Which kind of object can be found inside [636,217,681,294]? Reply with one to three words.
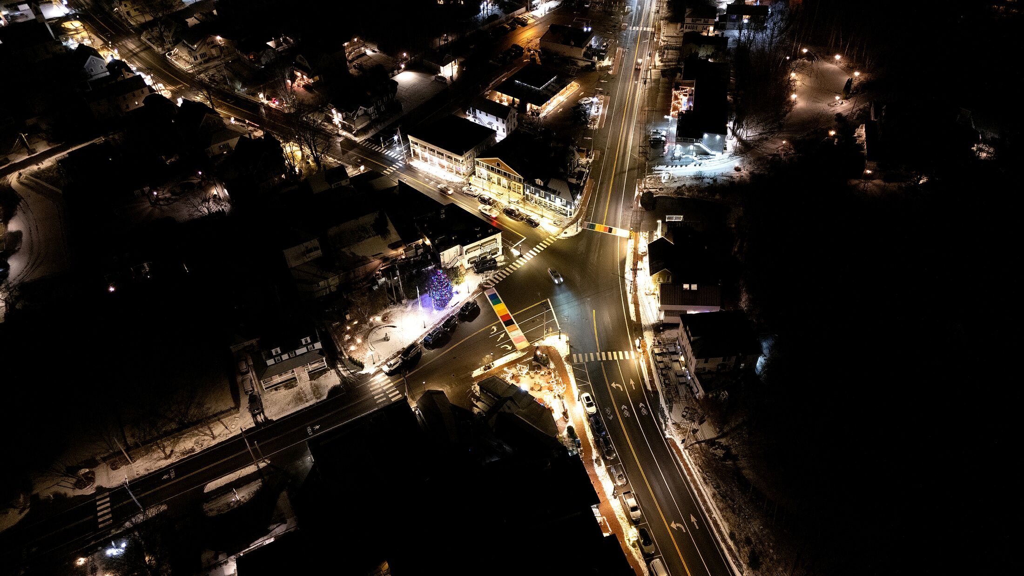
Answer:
building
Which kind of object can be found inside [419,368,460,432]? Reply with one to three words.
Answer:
barn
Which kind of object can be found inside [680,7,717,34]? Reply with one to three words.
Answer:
house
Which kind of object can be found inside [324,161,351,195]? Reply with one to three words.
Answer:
house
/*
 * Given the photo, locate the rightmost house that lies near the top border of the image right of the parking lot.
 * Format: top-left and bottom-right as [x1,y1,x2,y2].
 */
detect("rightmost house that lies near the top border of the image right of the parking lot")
[718,2,772,30]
